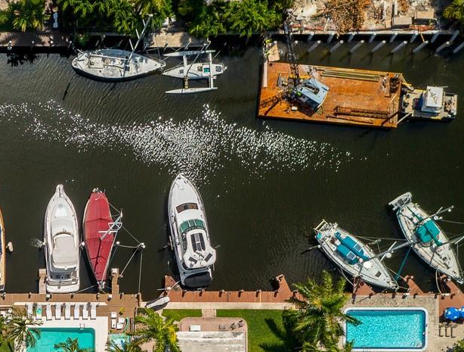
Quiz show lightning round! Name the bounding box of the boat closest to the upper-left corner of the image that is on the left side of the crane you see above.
[72,14,165,84]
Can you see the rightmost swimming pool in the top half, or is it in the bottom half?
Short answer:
bottom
